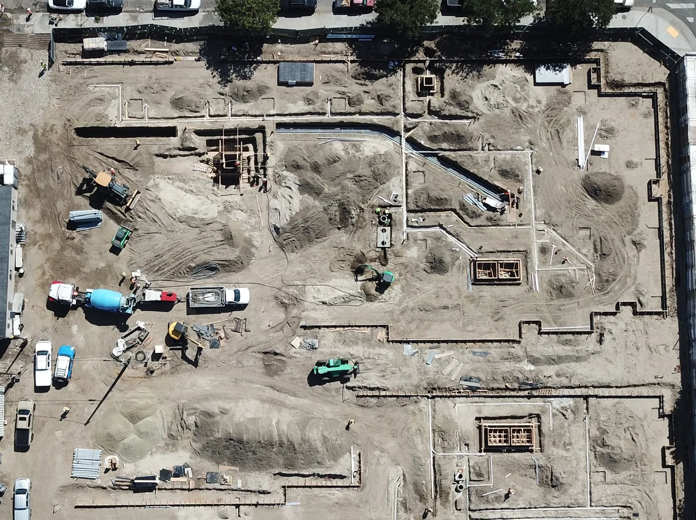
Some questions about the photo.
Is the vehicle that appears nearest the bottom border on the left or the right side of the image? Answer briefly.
left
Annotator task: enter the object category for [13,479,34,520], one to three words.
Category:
vehicle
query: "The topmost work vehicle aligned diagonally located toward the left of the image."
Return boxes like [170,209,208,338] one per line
[79,163,133,207]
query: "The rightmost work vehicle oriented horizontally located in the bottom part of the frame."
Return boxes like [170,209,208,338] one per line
[313,358,369,381]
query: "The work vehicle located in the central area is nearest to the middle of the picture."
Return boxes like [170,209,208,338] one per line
[357,260,394,289]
